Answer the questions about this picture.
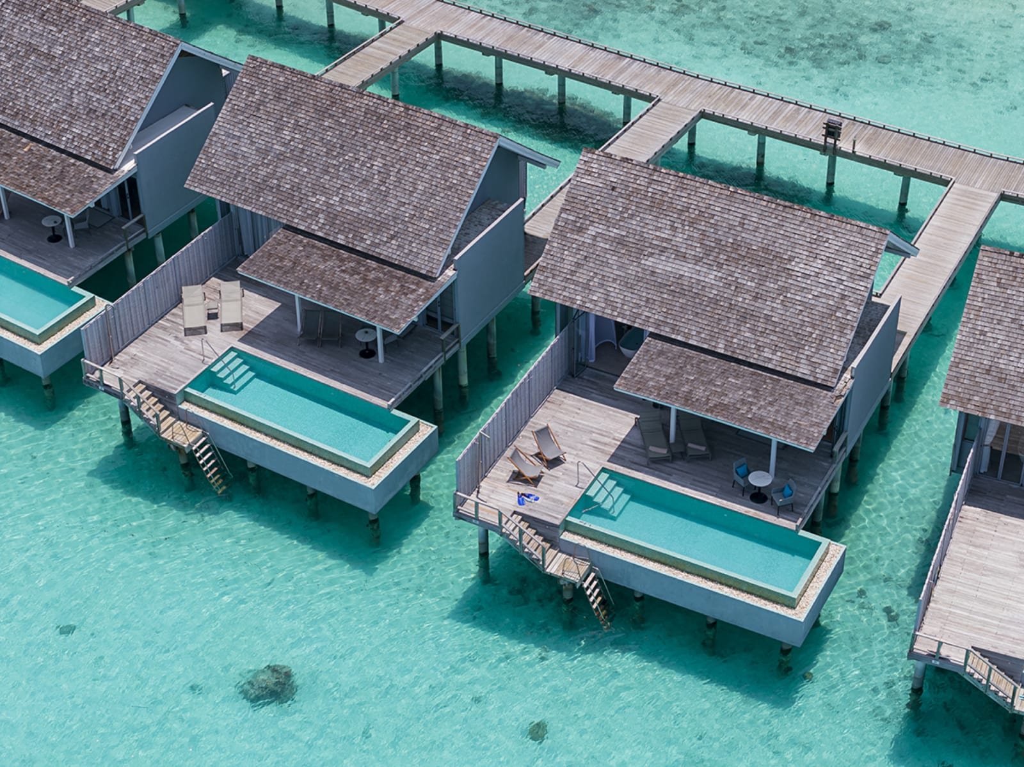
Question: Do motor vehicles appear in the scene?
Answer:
No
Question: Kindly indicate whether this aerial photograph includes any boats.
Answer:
No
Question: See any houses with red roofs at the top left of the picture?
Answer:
No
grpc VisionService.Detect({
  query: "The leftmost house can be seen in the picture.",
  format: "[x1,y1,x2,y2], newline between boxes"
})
[0,0,238,294]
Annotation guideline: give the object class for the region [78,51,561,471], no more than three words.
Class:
house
